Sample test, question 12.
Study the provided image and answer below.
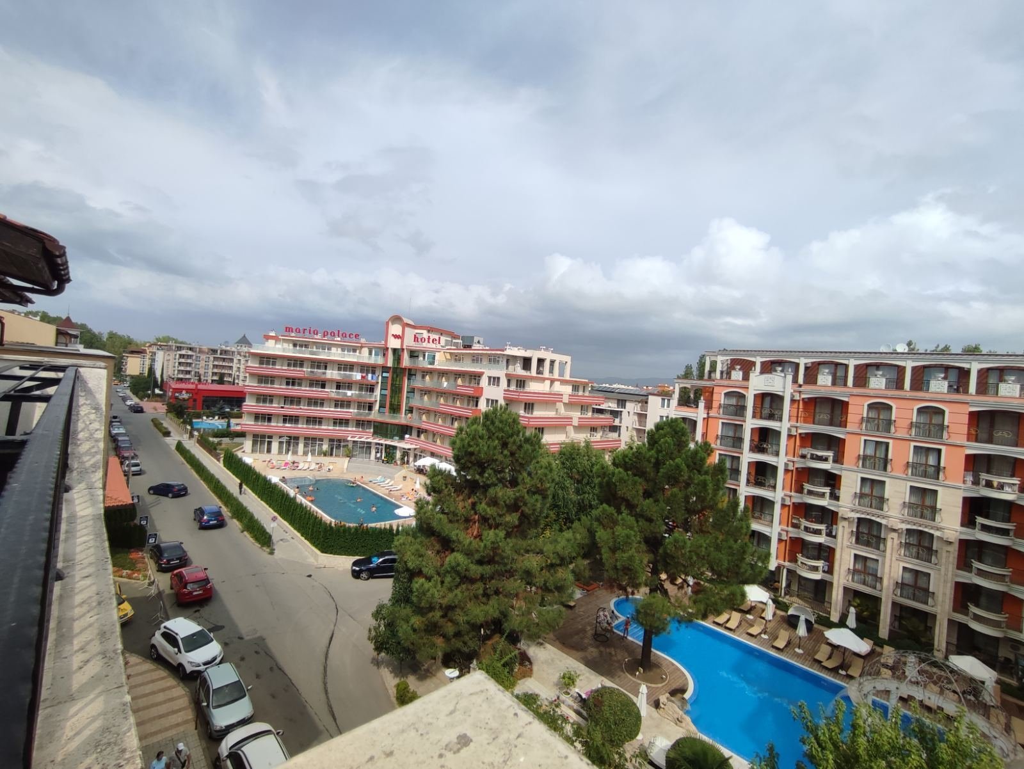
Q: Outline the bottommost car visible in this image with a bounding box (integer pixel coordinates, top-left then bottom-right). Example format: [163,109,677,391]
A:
[217,715,295,769]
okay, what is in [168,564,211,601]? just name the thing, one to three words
car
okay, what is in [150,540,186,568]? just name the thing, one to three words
car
